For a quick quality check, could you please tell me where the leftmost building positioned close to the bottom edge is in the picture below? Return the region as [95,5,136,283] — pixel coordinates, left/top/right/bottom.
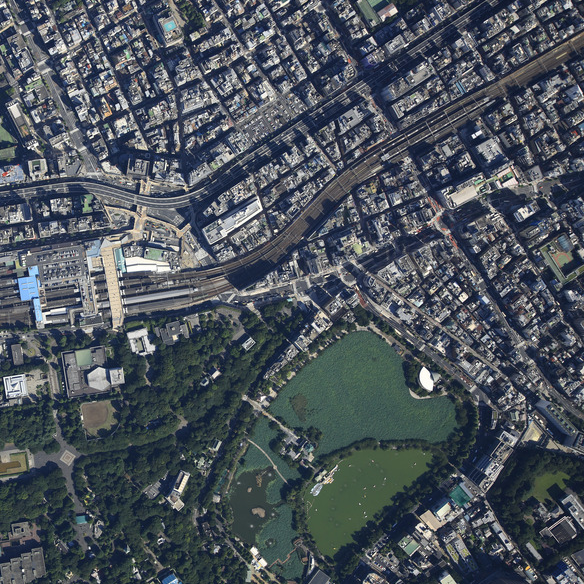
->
[0,521,46,584]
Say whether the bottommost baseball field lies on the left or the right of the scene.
left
